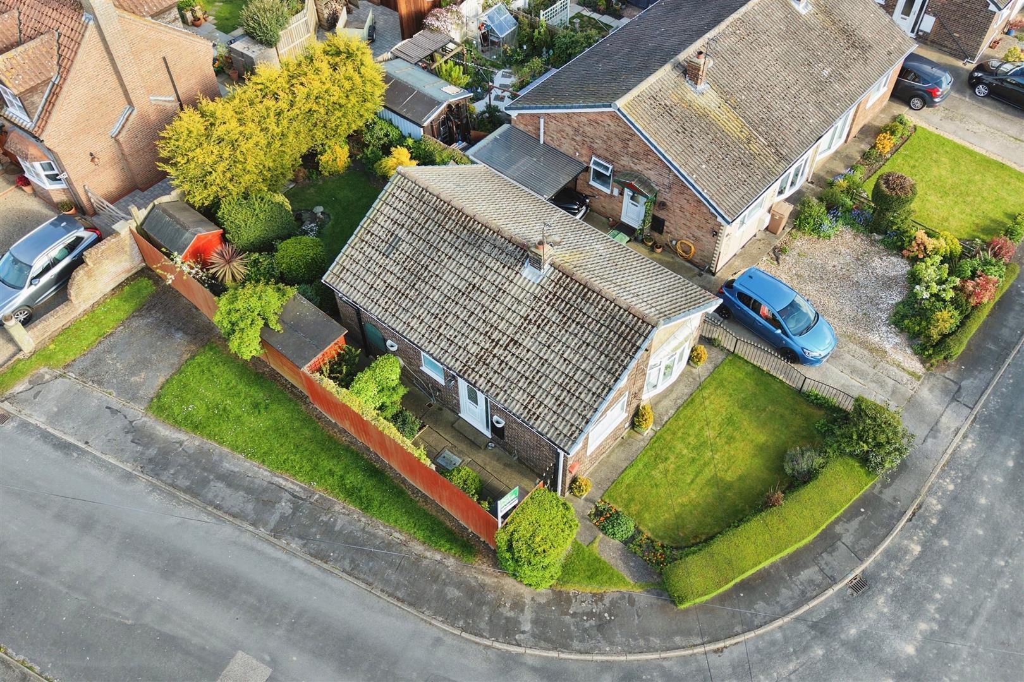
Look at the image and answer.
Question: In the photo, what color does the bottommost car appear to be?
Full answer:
In this view, the bottommost car is blue.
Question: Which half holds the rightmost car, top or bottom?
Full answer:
The rightmost car is in the top half of the image.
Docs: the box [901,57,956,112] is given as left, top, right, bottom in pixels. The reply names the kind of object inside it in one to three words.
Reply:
car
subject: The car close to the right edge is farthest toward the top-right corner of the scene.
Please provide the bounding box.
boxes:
[967,59,1024,108]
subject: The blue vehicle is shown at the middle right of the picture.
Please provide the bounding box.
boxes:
[716,273,835,366]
